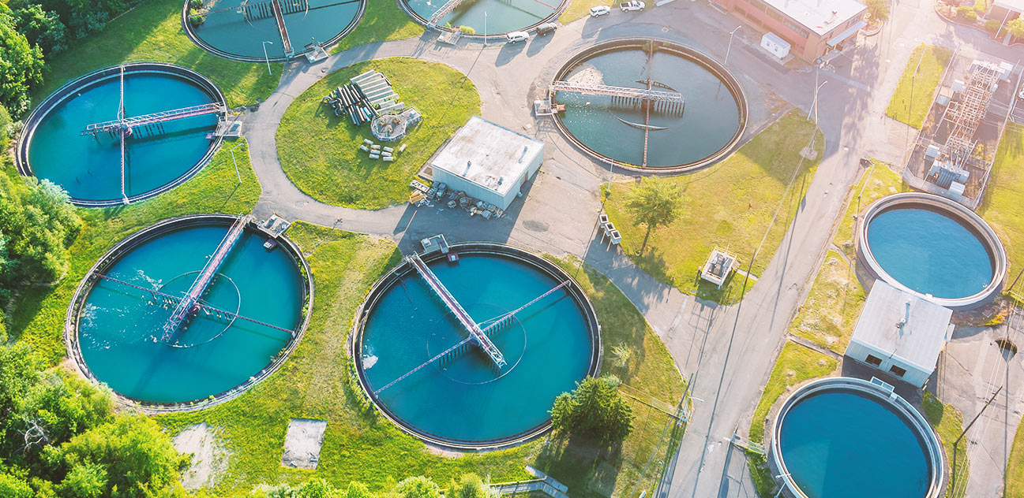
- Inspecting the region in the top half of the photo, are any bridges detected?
Yes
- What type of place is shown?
industrial area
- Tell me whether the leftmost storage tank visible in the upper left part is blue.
Yes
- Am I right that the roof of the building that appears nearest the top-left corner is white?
Yes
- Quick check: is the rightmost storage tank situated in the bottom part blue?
Yes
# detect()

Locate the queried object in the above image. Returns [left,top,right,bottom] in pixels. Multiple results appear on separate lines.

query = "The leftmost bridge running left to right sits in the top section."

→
[82,98,226,133]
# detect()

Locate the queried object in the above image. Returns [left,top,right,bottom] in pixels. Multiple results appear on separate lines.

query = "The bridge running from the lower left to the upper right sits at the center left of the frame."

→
[161,213,253,341]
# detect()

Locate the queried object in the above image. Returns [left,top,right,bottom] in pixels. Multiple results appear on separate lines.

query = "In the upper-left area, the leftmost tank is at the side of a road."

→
[19,62,241,207]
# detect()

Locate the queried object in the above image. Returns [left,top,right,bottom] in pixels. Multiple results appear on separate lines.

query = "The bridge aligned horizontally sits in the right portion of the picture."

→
[548,78,686,105]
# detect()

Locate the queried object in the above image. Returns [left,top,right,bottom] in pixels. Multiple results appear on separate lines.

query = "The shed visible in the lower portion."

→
[844,279,954,387]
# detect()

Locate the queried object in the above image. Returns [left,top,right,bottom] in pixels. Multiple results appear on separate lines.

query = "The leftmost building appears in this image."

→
[422,114,546,211]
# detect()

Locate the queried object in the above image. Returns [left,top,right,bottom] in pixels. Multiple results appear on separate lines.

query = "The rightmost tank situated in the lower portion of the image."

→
[354,229,599,450]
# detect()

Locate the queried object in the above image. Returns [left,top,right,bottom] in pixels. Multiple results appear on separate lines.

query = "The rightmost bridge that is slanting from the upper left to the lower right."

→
[406,251,506,370]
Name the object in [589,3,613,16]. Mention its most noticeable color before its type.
white vehicle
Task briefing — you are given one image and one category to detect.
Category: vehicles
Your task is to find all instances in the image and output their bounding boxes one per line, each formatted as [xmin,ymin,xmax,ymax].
[589,3,613,16]
[534,21,558,34]
[507,30,531,42]
[619,0,646,11]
